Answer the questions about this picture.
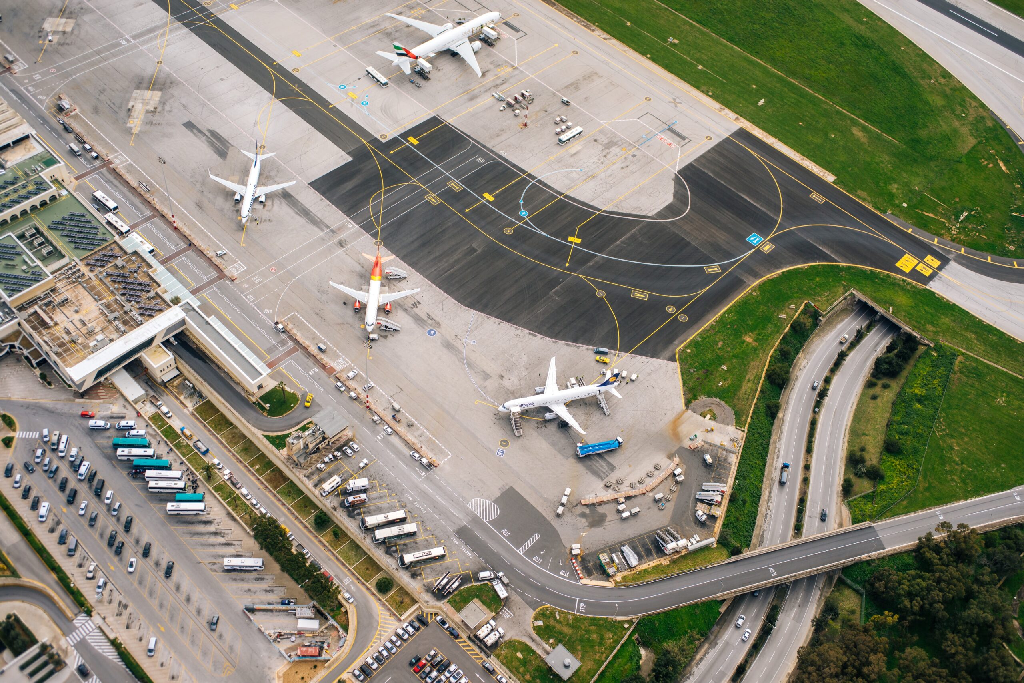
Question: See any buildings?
Yes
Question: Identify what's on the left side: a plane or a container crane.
plane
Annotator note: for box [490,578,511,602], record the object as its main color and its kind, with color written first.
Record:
white truck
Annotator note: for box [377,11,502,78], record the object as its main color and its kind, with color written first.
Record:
white airplane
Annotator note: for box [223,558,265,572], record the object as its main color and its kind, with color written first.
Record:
white vehicle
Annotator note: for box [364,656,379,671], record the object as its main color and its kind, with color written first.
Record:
white car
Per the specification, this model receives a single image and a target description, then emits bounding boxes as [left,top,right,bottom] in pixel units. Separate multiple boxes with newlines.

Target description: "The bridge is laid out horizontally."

[639,516,1024,618]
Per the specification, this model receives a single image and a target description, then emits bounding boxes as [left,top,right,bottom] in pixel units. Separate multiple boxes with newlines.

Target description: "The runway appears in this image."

[857,0,1024,141]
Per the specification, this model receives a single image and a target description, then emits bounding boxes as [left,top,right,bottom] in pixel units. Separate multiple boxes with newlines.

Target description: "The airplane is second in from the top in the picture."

[208,139,297,222]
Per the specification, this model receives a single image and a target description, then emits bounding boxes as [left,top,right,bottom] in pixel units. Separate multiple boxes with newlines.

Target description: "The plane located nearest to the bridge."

[497,355,621,433]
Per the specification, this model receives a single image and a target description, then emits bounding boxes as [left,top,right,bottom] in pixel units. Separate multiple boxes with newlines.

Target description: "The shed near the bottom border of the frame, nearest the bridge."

[544,644,581,683]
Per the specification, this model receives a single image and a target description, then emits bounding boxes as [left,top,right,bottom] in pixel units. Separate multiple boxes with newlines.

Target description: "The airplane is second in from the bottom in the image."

[329,243,421,333]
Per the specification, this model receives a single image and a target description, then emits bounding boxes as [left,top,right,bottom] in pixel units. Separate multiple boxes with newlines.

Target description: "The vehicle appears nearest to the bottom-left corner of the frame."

[77,662,90,678]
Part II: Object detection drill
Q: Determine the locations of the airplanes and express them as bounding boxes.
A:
[377,11,502,78]
[329,243,421,333]
[208,139,297,222]
[497,355,621,433]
